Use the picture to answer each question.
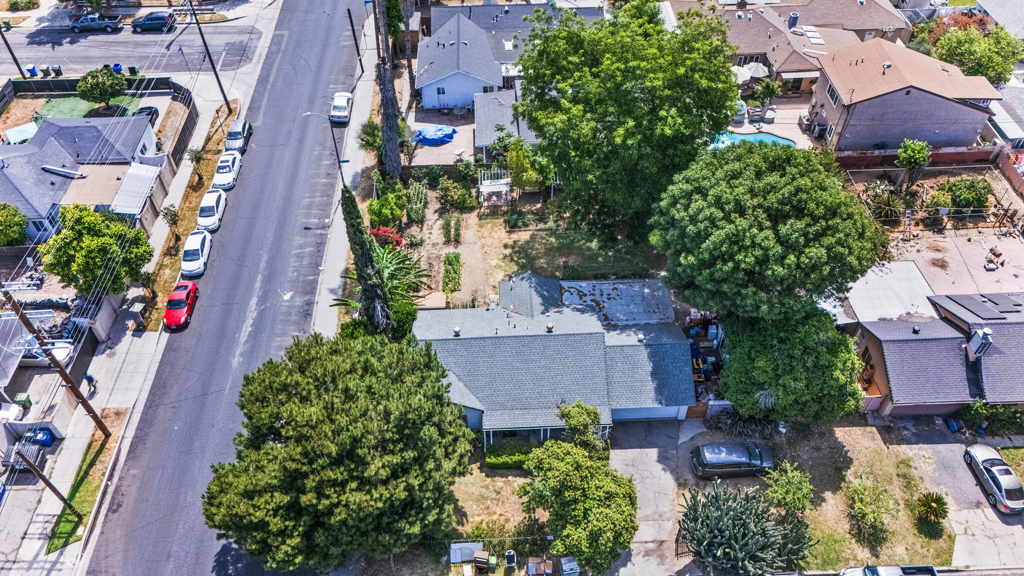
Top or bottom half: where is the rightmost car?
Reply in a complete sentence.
Seen from above, the rightmost car lies in the bottom half of the view.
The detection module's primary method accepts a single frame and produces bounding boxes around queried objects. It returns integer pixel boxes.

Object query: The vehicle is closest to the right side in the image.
[957,447,1024,518]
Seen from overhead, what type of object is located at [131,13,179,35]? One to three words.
car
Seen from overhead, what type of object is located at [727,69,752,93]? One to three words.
umbrella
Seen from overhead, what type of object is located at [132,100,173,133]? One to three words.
car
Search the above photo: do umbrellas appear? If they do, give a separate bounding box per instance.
[745,62,771,83]
[727,69,752,93]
